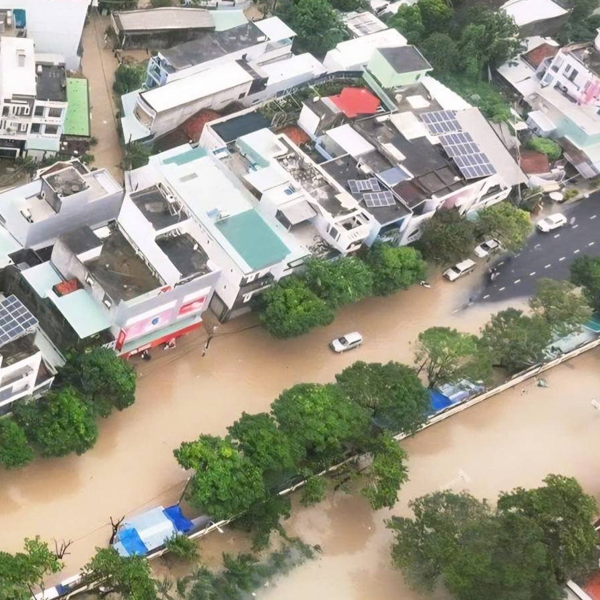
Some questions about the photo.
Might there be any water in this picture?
Yes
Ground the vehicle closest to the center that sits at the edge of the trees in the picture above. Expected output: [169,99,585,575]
[330,329,366,352]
